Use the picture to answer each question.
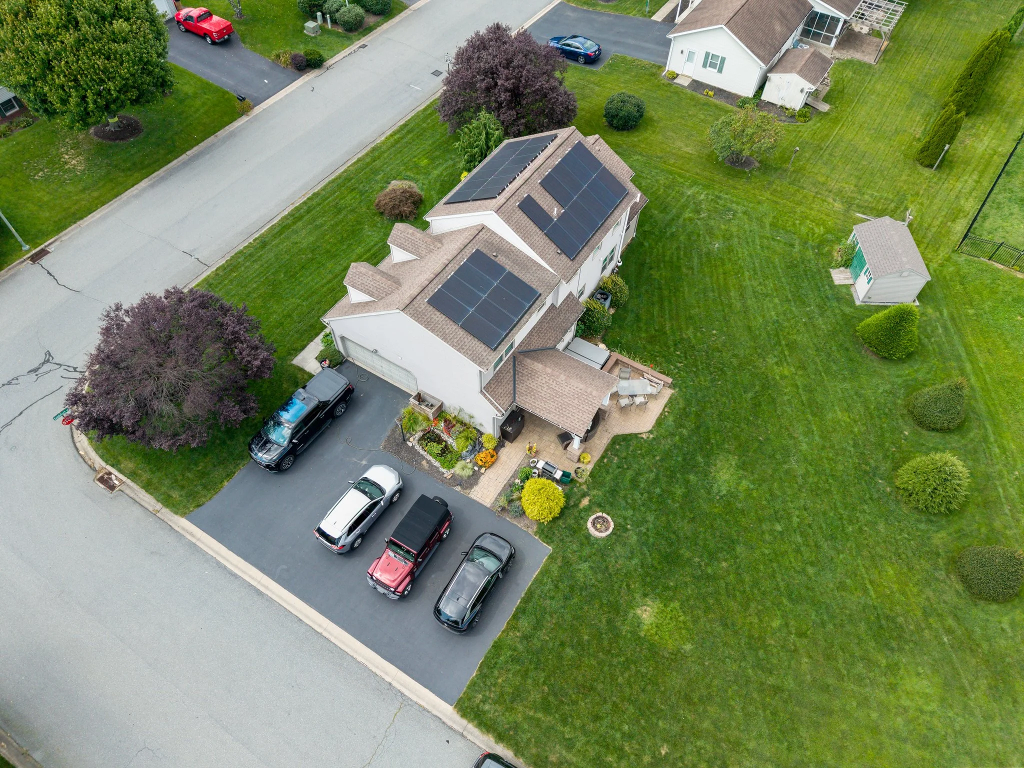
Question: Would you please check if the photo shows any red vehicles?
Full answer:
Yes, I can see a red vehicle in this picture.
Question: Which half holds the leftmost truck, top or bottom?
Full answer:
You can find the leftmost truck in the top half.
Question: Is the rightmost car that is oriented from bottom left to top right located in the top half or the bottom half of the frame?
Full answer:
The bottom half of the photo is where the rightmost car that is oriented from bottom left to top right is.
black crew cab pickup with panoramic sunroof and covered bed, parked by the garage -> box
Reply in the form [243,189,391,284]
[244,369,354,474]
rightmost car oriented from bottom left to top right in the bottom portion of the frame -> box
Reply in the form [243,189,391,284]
[429,527,517,636]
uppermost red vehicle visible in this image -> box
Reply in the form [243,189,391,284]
[173,5,236,44]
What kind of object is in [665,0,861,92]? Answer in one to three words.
house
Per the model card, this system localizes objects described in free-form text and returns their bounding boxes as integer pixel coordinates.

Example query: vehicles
[314,463,403,556]
[429,527,517,636]
[542,31,602,63]
[244,369,354,474]
[364,498,452,600]
[173,5,236,44]
[468,749,510,768]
